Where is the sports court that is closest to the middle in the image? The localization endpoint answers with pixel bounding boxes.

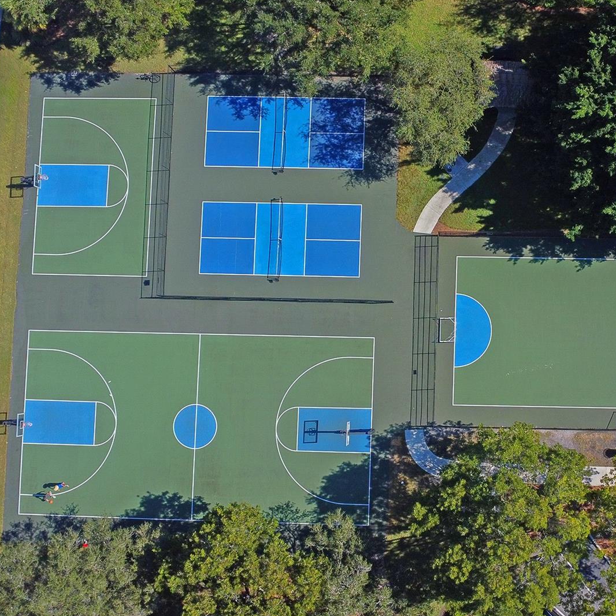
[199,201,362,277]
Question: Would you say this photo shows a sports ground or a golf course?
sports ground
